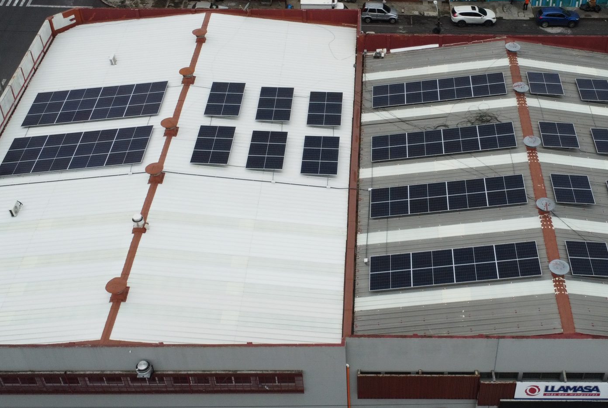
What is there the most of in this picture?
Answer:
buildings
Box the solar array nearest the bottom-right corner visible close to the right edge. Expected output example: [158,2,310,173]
[565,239,608,277]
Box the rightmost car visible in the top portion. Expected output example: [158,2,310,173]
[536,8,582,31]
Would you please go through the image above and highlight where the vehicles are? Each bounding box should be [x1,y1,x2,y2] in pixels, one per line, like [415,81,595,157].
[536,8,582,31]
[363,4,400,27]
[300,0,347,8]
[450,7,496,29]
